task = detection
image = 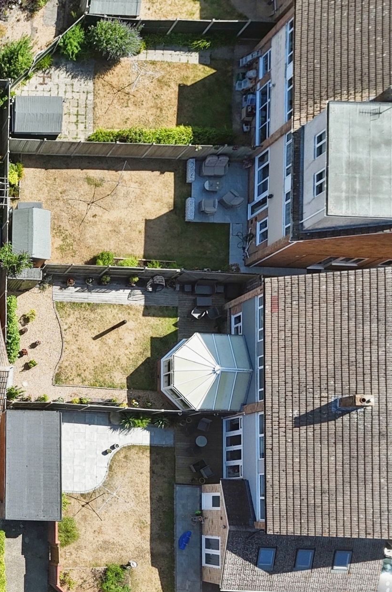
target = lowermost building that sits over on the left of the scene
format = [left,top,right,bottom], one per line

[0,410,62,521]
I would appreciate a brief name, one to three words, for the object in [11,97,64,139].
shed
